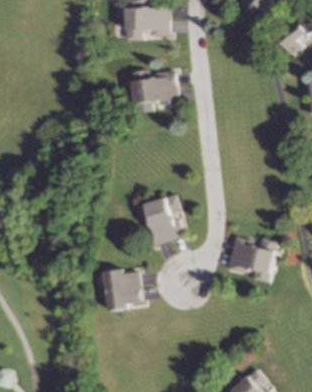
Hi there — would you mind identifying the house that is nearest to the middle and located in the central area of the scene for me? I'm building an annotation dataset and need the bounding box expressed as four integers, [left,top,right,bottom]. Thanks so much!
[143,194,188,245]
